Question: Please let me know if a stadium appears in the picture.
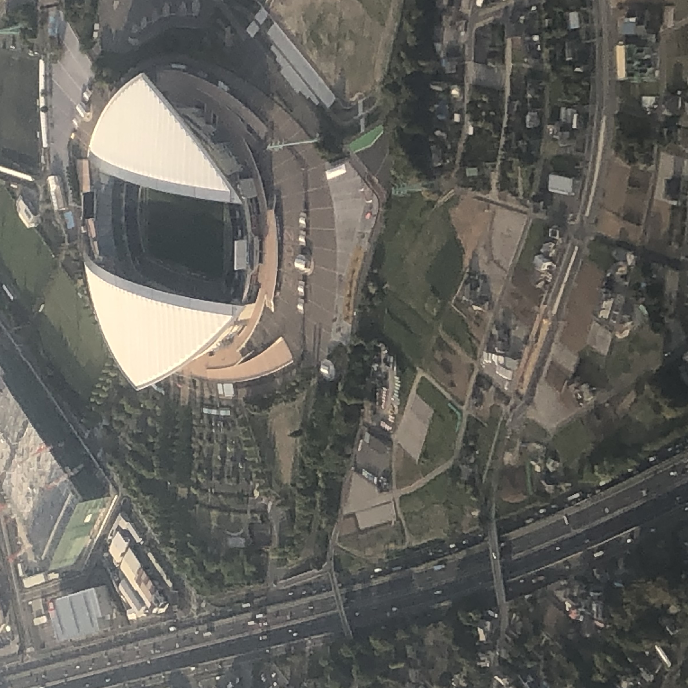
Yes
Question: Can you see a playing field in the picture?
Yes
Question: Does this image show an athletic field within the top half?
Yes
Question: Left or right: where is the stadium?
left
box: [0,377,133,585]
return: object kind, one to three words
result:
building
